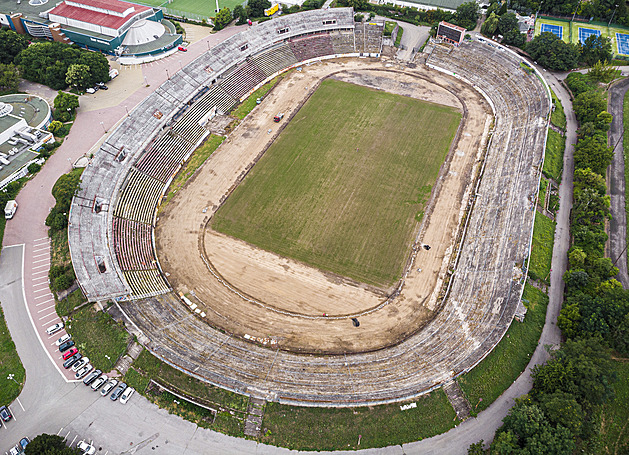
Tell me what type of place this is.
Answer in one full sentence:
This image shows a sports ground.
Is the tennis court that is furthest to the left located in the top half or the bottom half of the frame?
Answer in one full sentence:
Seen from above, the tennis court that is furthest to the left lies in the top half of the view.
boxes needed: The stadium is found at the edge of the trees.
[68,7,552,407]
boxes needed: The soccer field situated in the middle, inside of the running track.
[207,80,464,289]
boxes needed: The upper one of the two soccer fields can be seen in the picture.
[164,0,256,20]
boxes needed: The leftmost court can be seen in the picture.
[532,18,569,47]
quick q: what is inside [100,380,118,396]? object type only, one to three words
car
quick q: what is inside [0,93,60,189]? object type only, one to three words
building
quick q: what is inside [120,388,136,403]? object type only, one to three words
car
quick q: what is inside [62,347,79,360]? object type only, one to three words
vehicle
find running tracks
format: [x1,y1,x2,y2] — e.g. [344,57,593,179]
[153,42,494,352]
